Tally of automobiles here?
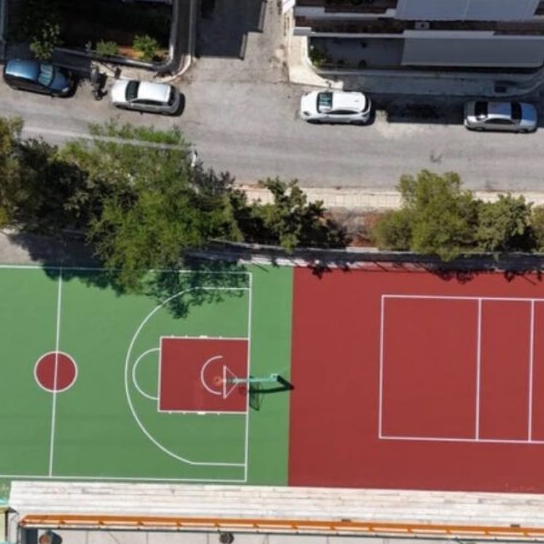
4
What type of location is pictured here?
sports ground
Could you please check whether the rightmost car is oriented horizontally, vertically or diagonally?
horizontally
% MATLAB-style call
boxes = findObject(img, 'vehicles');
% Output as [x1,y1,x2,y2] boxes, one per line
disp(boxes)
[465,98,534,134]
[3,57,75,98]
[300,86,370,124]
[112,75,181,115]
[85,65,100,98]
